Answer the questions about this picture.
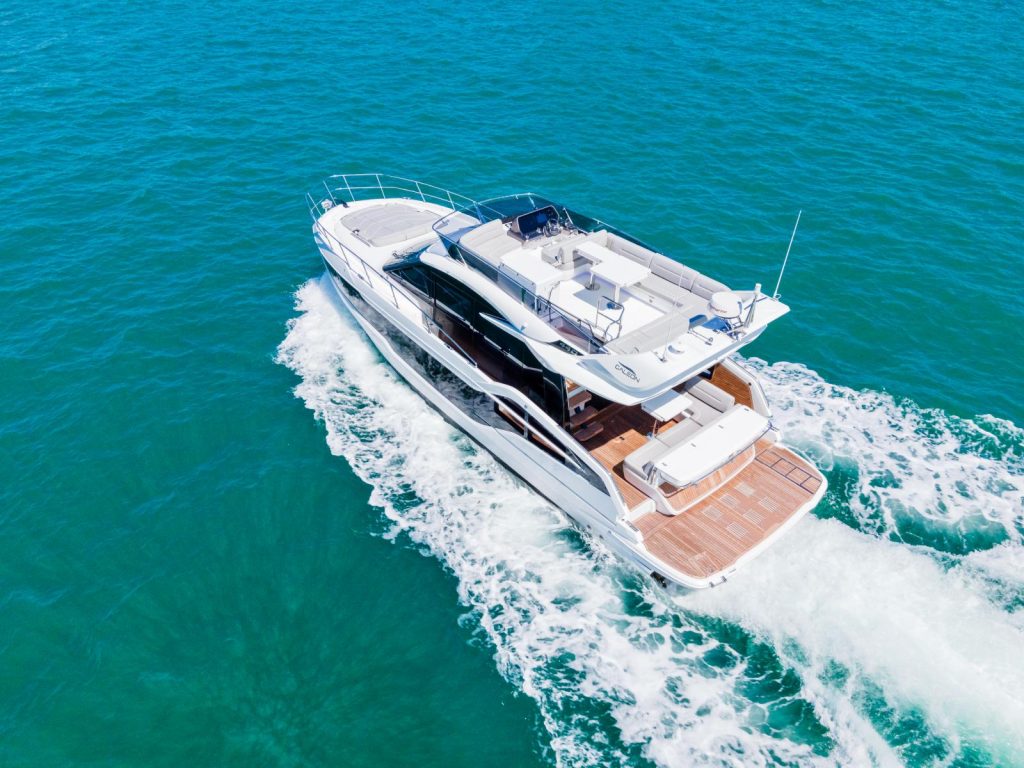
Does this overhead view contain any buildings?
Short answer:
No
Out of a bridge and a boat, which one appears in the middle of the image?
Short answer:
boat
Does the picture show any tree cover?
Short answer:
No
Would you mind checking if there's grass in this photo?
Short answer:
No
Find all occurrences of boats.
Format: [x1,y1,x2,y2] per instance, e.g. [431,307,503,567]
[304,173,833,593]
